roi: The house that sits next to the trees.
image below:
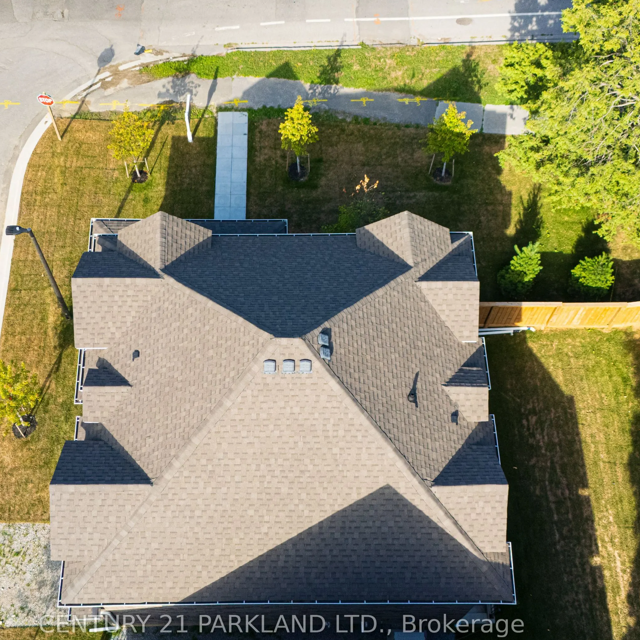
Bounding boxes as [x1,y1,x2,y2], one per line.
[46,212,536,633]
